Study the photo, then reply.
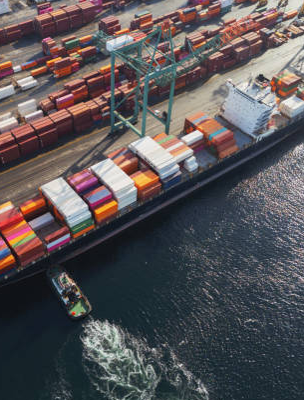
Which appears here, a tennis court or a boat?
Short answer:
boat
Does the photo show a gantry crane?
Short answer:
Yes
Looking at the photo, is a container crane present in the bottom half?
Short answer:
No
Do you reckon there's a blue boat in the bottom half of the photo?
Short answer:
No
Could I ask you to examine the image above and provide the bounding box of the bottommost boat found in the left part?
[55,264,93,320]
